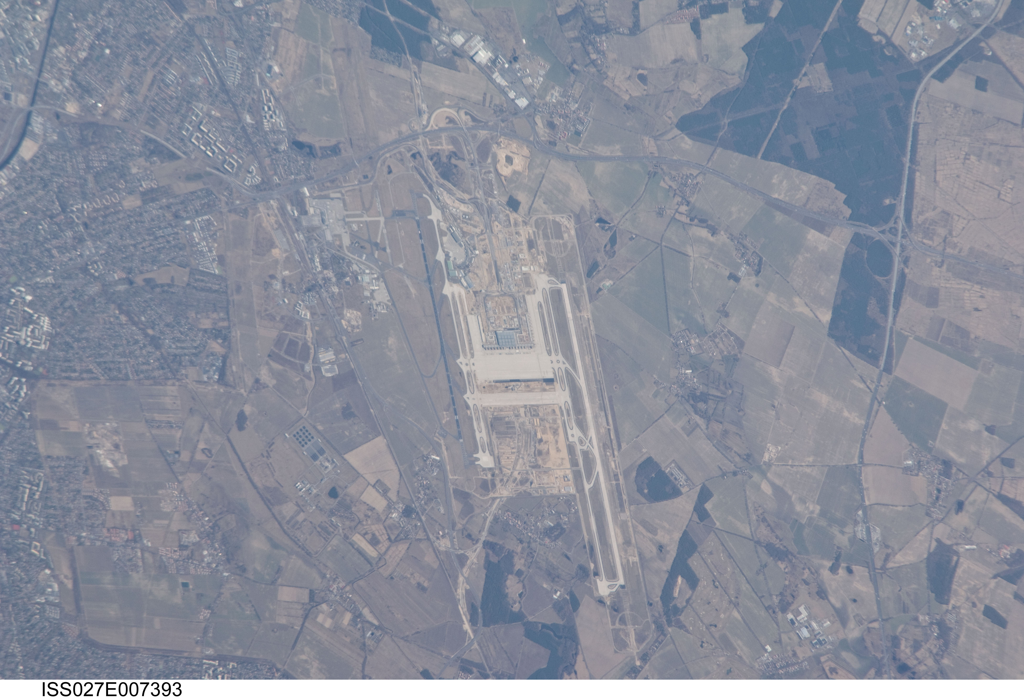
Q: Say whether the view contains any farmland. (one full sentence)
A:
Yes, the picture does contain farmland.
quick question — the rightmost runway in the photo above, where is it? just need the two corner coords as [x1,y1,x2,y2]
[560,279,626,589]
